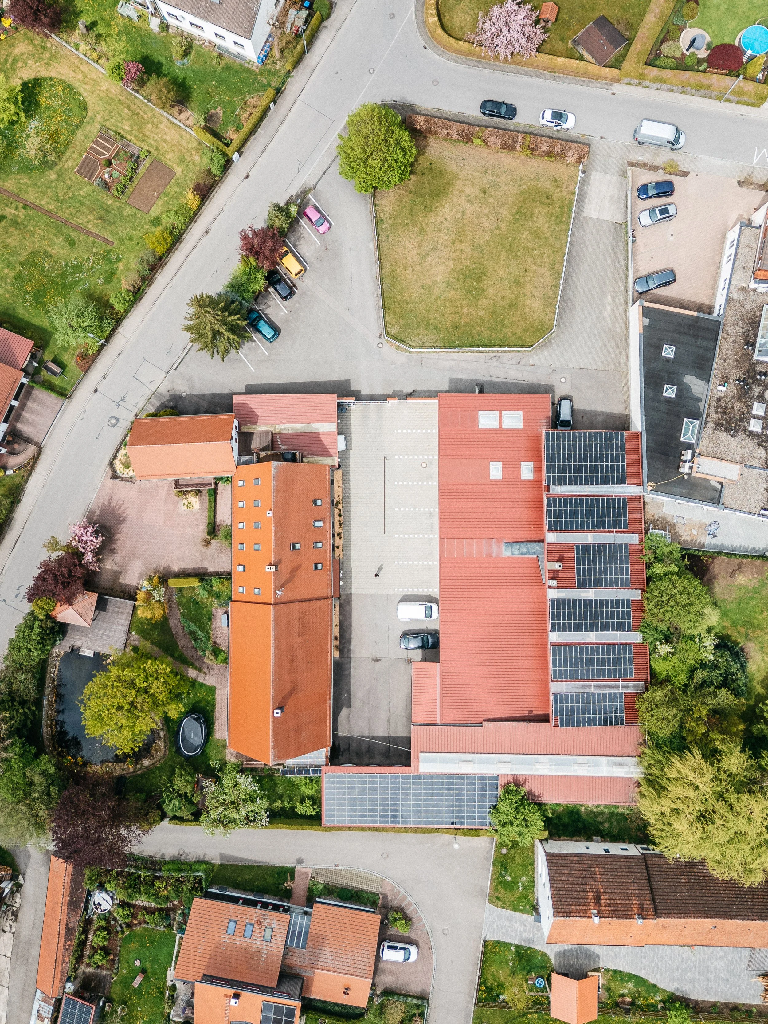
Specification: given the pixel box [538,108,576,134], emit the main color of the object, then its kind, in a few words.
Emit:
white car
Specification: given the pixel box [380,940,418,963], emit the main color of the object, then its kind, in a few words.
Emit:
white car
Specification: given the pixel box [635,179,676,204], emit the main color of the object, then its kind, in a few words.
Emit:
blue car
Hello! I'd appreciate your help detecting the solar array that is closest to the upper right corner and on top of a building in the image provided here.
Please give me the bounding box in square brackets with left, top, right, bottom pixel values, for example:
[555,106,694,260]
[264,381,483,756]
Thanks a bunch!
[545,431,627,485]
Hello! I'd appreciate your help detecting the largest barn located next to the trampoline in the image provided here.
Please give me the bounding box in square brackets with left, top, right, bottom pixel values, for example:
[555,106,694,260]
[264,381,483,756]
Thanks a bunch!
[226,461,339,766]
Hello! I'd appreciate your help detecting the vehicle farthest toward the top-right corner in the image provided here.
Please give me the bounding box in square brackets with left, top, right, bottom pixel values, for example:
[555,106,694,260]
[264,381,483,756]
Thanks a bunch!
[632,121,685,151]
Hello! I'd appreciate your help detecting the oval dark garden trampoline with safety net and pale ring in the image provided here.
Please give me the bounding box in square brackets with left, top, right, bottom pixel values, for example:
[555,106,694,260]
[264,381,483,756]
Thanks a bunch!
[172,710,209,762]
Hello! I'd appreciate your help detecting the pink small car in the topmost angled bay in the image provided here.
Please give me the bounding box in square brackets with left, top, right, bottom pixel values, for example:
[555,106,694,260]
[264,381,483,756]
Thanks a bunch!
[301,203,332,237]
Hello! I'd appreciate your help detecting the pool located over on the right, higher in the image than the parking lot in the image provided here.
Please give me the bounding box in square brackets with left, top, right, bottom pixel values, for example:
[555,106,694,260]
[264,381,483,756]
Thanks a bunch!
[736,22,768,63]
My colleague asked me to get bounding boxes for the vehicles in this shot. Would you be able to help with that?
[538,108,576,134]
[301,203,332,237]
[278,246,306,281]
[380,940,418,963]
[636,203,679,229]
[400,632,439,651]
[397,601,438,621]
[635,179,676,204]
[338,433,354,453]
[633,267,678,293]
[555,397,575,429]
[632,121,685,151]
[246,310,279,345]
[479,100,517,123]
[265,269,294,303]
